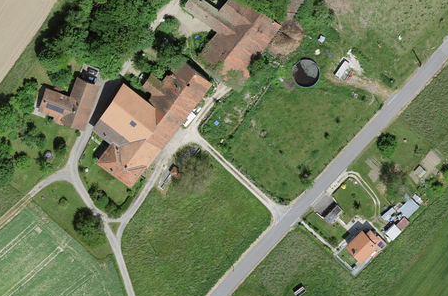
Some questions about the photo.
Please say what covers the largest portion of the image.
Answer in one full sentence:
The bulk of the photo consists of grass.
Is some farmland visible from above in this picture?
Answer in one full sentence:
Yes, farmland can be seen from above here.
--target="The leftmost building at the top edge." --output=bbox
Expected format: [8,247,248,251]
[185,0,280,80]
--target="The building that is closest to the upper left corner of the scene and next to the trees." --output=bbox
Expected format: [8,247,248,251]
[38,78,101,132]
